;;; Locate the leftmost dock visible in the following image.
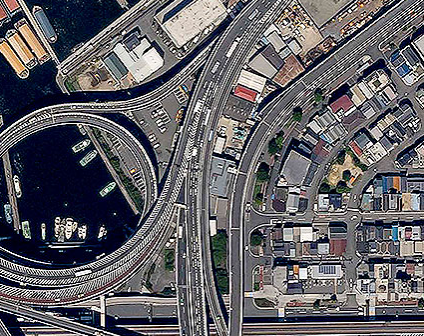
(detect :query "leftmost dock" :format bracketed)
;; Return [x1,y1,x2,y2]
[3,160,20,228]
